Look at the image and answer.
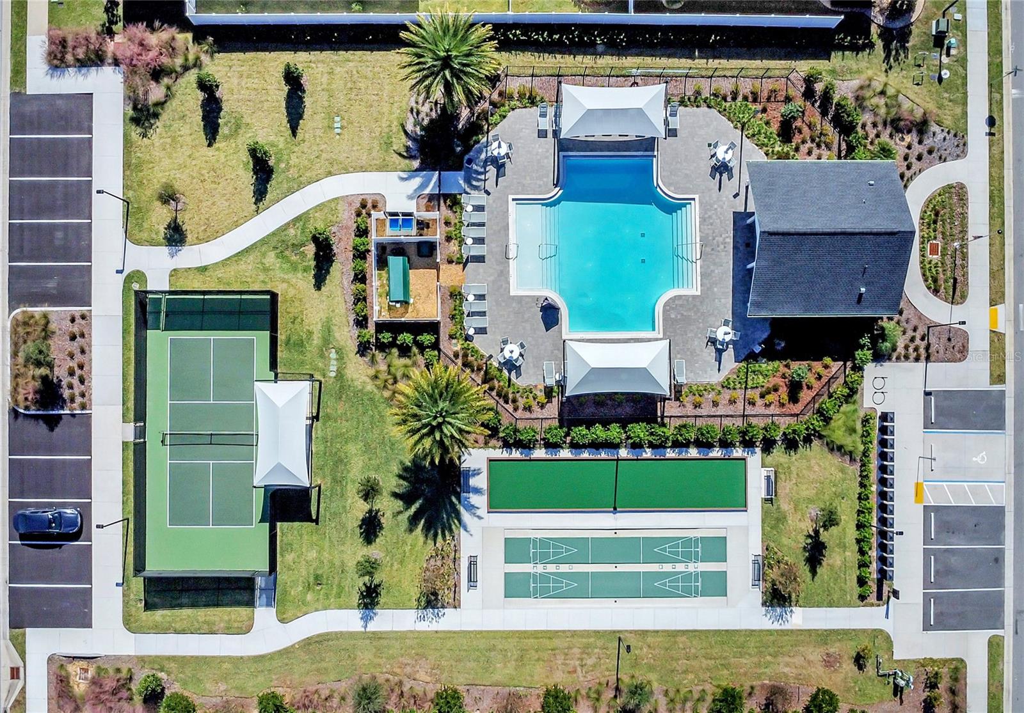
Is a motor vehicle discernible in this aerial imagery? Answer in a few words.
Yes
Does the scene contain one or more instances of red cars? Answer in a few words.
No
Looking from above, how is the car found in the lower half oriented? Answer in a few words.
horizontally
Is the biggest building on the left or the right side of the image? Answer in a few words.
right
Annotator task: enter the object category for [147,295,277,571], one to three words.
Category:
sports court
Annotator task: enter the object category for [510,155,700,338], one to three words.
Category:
swimming pool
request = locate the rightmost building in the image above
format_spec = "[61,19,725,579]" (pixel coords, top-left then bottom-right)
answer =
[743,160,914,318]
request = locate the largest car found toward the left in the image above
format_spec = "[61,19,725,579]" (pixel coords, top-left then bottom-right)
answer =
[13,508,78,540]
